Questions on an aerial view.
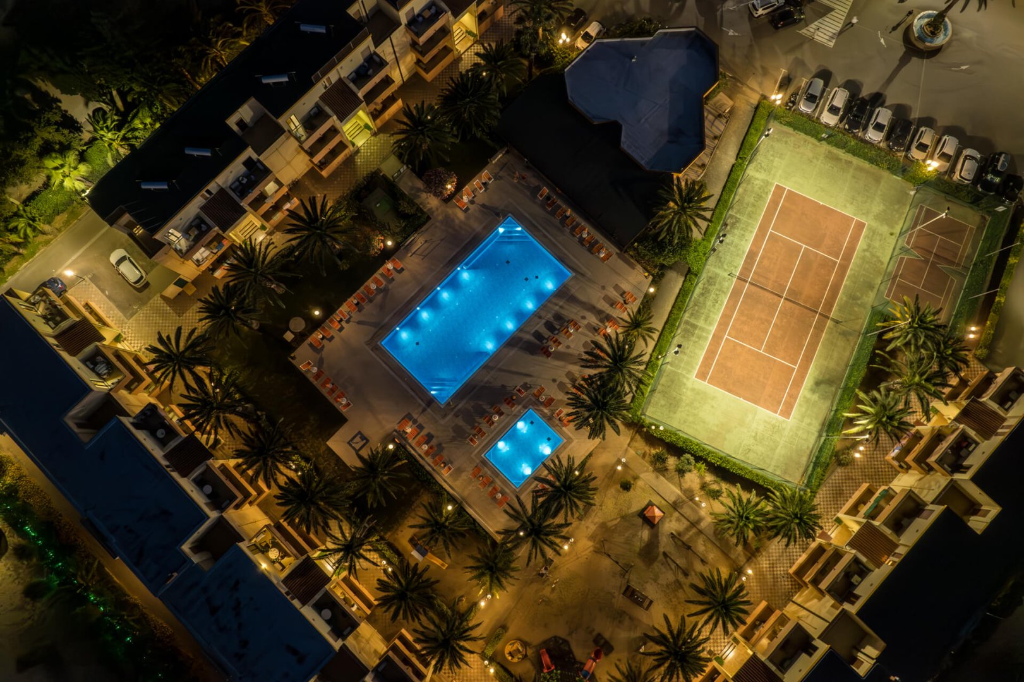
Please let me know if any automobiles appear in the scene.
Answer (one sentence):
Yes, an automobile can be made out from above.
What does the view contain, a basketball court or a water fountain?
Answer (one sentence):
The one in the frame is a water fountain.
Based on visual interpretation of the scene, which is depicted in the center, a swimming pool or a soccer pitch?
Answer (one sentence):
It is a swimming pool that can be seen in the center.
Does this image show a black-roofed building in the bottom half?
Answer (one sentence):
Yes, a black-roofed building is visible in the bottom half.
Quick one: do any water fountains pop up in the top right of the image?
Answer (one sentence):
Yes, in the top right of the image there is a water fountain.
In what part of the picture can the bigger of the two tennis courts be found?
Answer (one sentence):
Look in the right portion of the view to spot the bigger of the two tennis courts.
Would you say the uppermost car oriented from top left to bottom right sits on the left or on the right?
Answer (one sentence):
The uppermost car oriented from top left to bottom right is on the left side of the image.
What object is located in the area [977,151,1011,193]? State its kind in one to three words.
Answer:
car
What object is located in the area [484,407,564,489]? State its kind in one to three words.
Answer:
swimming pool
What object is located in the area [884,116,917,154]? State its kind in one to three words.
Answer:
car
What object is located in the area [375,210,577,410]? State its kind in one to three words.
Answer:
swimming pool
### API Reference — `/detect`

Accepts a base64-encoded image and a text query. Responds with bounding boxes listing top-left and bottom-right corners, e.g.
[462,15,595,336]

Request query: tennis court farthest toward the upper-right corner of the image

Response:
[877,191,984,328]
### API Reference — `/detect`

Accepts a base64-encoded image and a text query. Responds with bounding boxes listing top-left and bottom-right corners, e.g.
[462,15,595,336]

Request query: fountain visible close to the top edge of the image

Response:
[913,9,957,50]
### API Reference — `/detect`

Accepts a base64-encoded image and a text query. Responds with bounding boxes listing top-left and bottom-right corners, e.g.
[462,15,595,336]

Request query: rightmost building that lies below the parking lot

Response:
[694,373,1024,682]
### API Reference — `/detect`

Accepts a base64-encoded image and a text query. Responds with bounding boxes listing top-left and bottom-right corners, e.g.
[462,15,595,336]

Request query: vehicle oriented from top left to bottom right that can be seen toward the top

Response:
[111,249,148,288]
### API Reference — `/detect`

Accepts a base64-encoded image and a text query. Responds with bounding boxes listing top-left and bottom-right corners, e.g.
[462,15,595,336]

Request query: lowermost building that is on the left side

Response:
[0,295,457,682]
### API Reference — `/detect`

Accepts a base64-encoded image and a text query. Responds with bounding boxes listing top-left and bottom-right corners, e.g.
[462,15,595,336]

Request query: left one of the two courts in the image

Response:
[644,123,913,483]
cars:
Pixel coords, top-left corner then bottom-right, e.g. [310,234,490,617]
[777,82,806,116]
[111,249,148,288]
[905,124,937,163]
[746,0,787,18]
[572,17,606,55]
[862,106,893,145]
[884,116,917,154]
[928,133,960,174]
[951,147,983,186]
[560,2,593,37]
[819,87,850,127]
[994,168,1024,206]
[769,4,808,33]
[977,151,1011,193]
[841,96,872,135]
[797,76,826,116]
